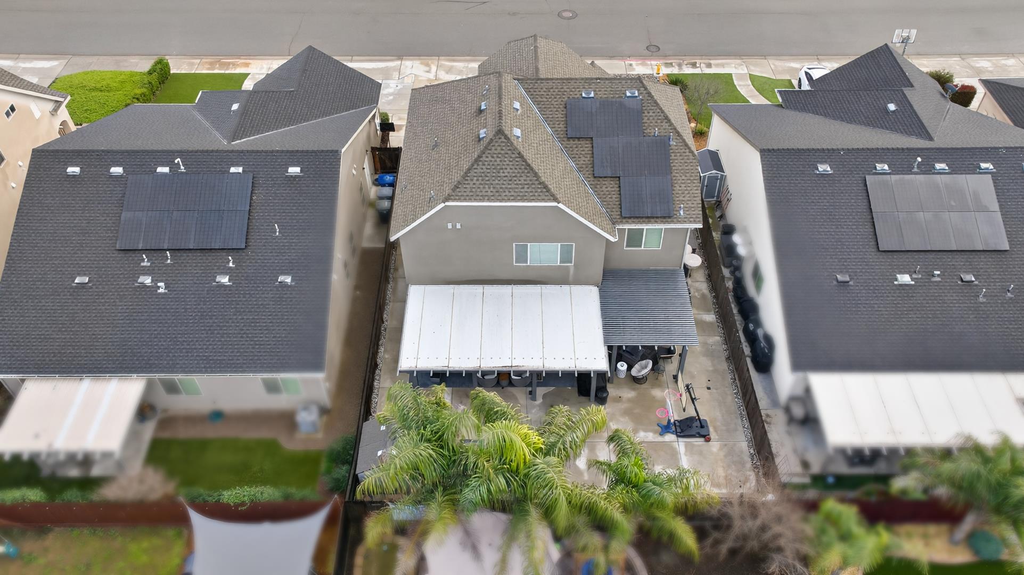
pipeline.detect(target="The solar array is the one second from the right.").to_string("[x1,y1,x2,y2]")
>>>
[567,98,678,216]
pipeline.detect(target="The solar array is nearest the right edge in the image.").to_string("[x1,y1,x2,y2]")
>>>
[867,174,1010,250]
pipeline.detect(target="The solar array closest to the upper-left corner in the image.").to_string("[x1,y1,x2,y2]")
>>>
[112,173,252,248]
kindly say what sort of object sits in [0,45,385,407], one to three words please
house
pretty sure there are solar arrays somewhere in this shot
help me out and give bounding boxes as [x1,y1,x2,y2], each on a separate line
[567,98,678,216]
[112,173,252,248]
[867,174,1010,250]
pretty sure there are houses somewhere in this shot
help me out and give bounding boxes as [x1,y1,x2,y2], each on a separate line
[707,45,1024,407]
[0,45,385,407]
[386,34,703,289]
